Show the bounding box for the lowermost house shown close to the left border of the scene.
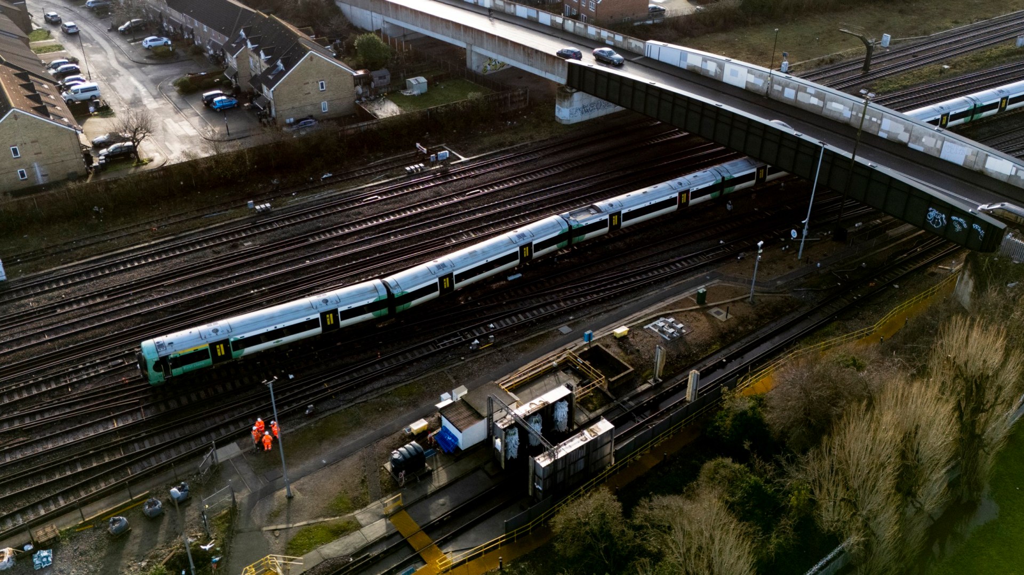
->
[0,61,87,190]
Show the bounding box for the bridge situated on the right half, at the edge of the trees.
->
[307,0,1024,302]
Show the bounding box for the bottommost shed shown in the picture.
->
[439,398,485,447]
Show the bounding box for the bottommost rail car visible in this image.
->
[135,274,388,384]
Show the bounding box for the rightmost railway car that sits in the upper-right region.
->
[962,76,1024,122]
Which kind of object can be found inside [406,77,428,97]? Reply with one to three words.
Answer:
shed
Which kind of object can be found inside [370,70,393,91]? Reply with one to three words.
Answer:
shed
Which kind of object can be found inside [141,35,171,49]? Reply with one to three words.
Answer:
car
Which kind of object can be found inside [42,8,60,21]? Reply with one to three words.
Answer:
vehicle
